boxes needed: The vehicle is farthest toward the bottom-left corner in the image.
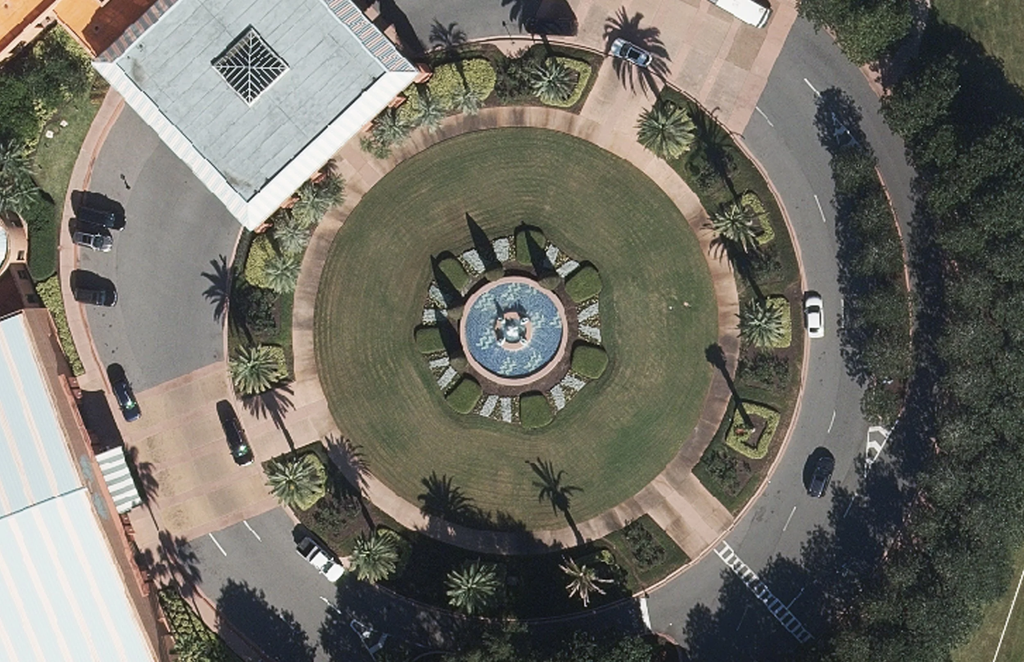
[111,378,141,424]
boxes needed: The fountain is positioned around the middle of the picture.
[459,276,568,385]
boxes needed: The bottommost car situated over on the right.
[811,456,836,500]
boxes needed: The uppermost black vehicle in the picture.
[527,15,577,35]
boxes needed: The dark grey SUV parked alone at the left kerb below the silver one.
[74,287,120,308]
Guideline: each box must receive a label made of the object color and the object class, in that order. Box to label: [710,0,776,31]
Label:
white vehicle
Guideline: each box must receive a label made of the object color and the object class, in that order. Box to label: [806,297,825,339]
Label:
white car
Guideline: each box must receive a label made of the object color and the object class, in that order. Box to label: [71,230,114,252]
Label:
gray car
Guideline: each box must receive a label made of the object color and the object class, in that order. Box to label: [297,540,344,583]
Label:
white truck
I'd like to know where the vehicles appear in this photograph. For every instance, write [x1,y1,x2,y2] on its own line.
[220,418,254,467]
[111,378,141,424]
[78,207,126,230]
[611,40,654,68]
[710,0,776,31]
[806,297,825,339]
[527,15,577,35]
[811,456,836,500]
[71,230,114,252]
[74,287,120,308]
[297,540,344,583]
